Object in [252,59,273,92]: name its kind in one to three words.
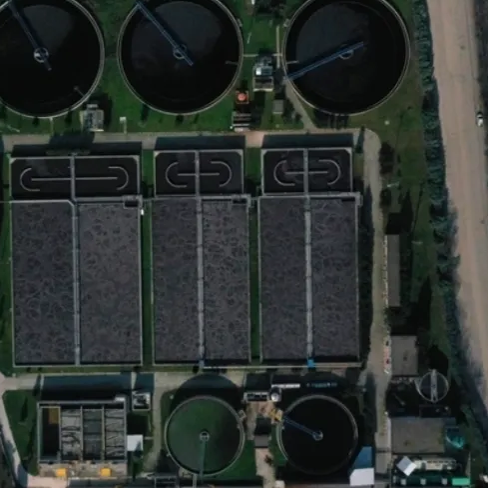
building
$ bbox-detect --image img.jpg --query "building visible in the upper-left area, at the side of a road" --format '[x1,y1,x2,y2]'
[81,104,104,131]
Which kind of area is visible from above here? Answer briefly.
industrial area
